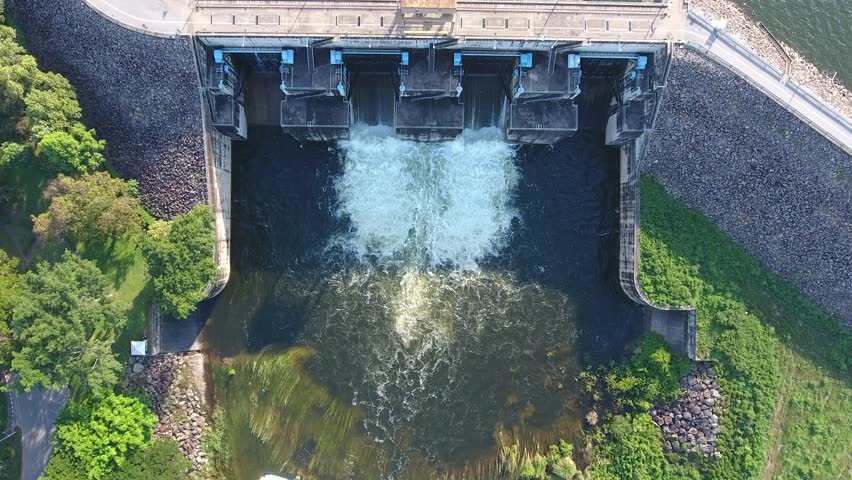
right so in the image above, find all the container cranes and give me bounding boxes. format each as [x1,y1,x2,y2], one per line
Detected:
[398,0,458,32]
